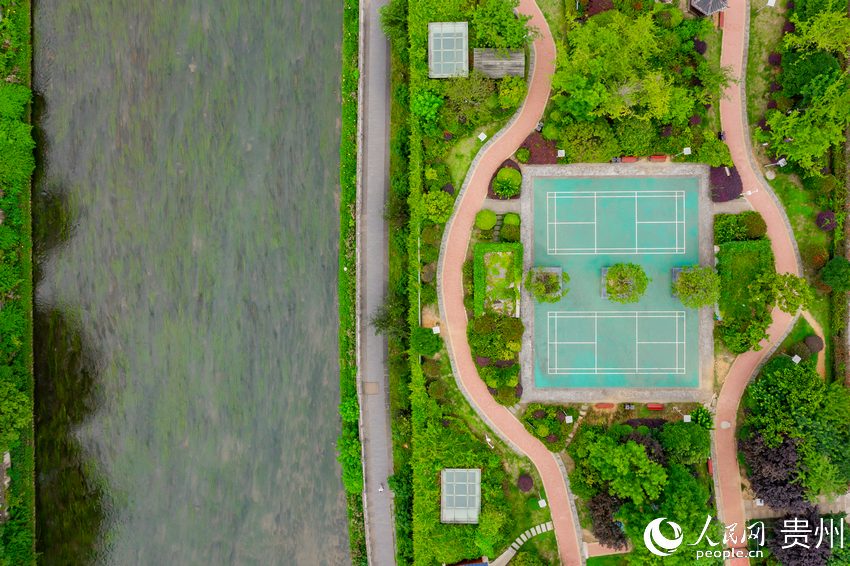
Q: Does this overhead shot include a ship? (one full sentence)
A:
No, the frame has no ship in it.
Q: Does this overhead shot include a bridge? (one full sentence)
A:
No, no bridge is visible in the scene.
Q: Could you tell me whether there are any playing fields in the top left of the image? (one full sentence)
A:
No, in the top left of the image there is no playing field.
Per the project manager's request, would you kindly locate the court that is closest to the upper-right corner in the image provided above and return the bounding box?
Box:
[547,191,686,254]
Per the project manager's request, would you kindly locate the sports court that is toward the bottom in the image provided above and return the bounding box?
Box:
[548,311,686,373]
